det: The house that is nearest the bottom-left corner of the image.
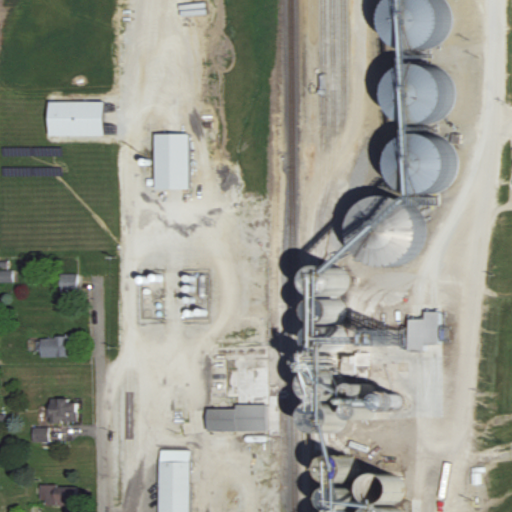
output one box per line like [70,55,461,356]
[40,484,80,505]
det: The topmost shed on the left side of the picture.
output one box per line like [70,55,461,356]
[49,102,108,138]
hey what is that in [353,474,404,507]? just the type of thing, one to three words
silo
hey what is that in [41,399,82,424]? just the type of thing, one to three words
house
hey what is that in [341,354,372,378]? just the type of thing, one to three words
shed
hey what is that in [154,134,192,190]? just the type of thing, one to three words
building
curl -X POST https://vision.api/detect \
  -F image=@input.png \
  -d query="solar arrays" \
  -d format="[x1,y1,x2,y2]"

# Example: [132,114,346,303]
[2,148,63,156]
[2,168,63,176]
